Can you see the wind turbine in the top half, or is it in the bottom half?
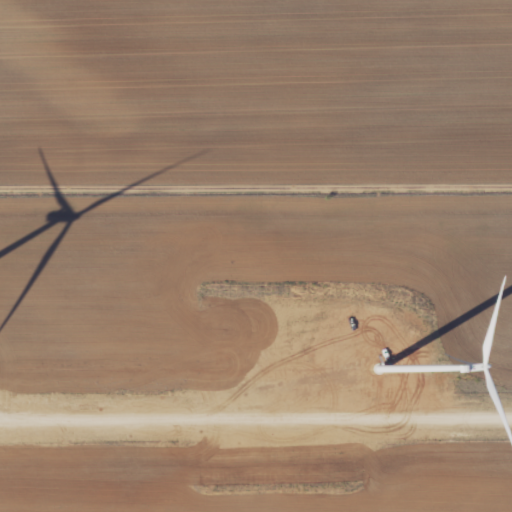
bottom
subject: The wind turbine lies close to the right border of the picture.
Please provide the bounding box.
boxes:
[374,274,512,446]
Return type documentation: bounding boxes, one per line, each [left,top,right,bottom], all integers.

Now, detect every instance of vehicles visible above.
[383,348,390,359]
[350,316,357,330]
